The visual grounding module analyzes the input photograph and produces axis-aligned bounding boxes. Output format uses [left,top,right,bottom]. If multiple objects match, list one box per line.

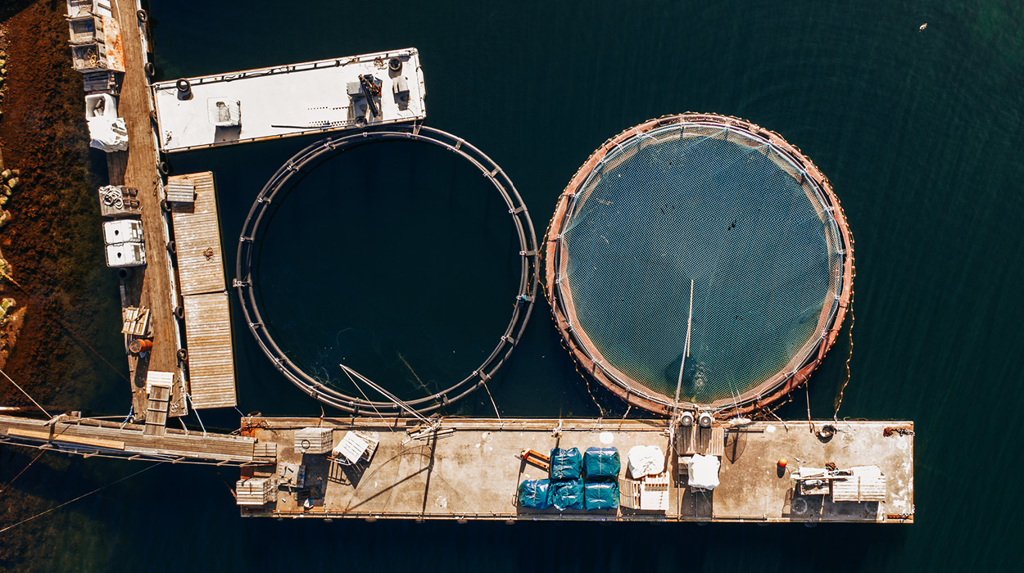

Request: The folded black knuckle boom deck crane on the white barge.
[352,66,388,122]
